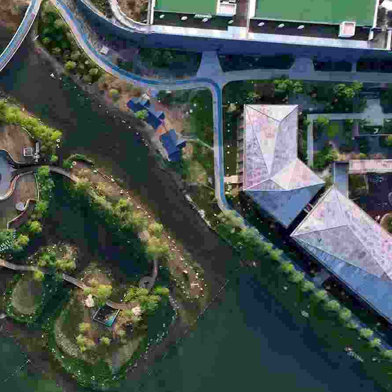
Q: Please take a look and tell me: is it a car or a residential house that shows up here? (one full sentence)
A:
It is a residential house that can be seen here.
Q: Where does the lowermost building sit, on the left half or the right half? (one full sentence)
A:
The lowermost building sits on the left side.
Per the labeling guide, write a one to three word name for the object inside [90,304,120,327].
building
